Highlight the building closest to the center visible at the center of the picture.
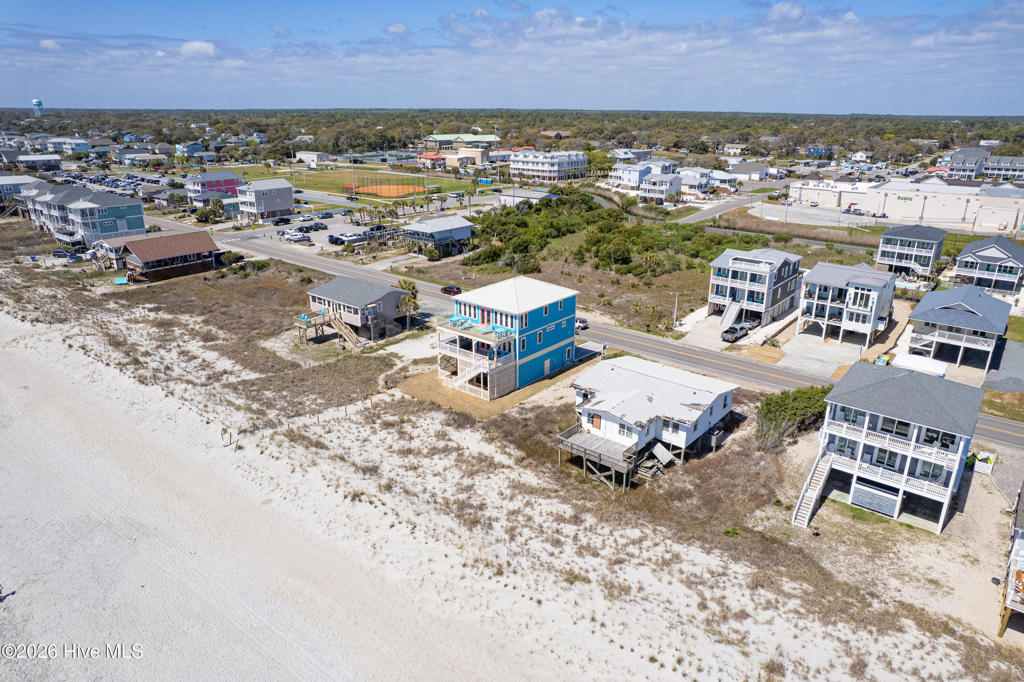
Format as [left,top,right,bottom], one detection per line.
[435,276,582,401]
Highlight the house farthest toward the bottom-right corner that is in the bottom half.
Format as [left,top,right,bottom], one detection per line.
[986,495,1024,636]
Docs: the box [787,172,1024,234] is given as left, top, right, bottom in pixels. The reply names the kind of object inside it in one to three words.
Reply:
building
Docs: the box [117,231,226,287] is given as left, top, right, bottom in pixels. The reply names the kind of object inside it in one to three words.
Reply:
house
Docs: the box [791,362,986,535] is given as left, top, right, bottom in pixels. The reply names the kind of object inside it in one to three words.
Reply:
house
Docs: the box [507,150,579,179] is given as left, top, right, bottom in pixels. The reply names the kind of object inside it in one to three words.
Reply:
building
